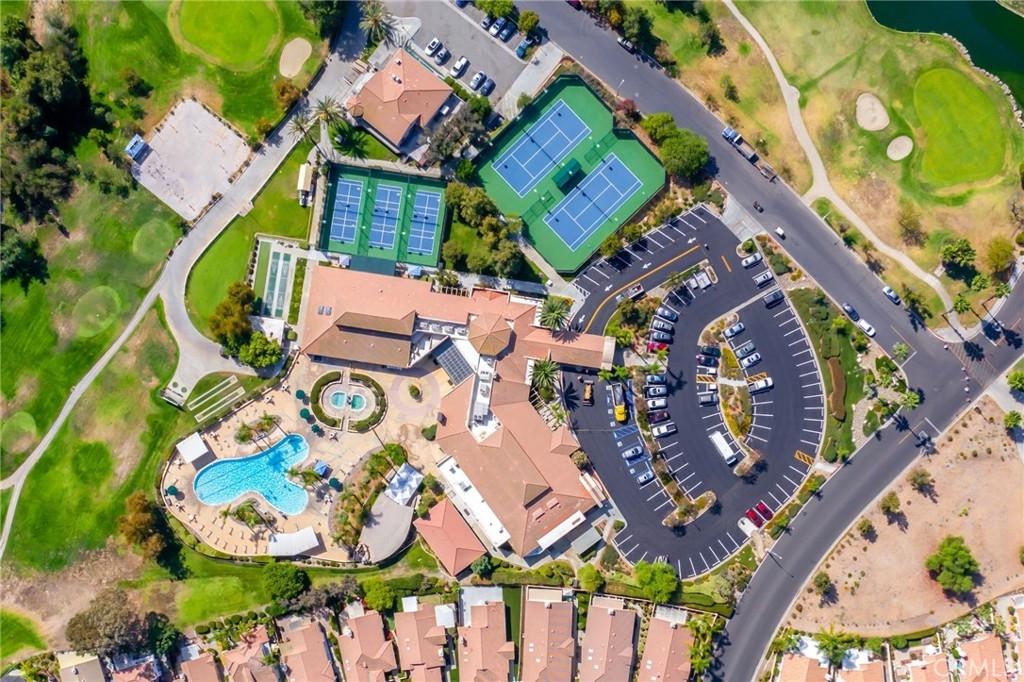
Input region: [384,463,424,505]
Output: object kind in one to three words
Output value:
tent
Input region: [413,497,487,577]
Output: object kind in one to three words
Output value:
building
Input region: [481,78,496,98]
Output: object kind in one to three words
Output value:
car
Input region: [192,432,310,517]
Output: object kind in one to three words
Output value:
swimming pool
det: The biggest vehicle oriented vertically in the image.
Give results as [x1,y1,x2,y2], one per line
[612,382,625,421]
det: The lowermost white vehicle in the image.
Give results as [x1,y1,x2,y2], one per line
[737,516,758,537]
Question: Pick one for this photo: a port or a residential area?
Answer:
residential area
